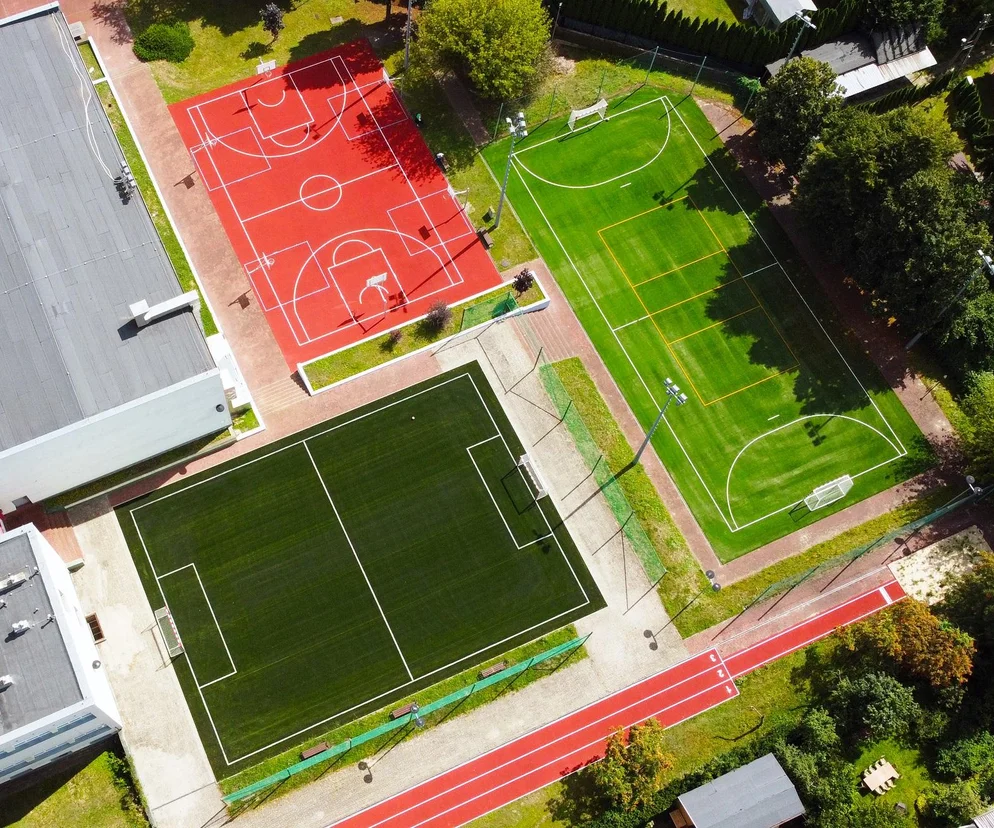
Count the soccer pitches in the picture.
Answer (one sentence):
I count 2 soccer pitches.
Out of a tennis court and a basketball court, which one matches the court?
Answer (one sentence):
The court appears to be a basketball court.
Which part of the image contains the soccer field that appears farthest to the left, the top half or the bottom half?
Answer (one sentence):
You can find the soccer field that appears farthest to the left in the bottom half.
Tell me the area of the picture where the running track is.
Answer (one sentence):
You can find the running track in the bottom area of the picture.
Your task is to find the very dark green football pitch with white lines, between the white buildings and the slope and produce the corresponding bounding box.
[116,360,606,779]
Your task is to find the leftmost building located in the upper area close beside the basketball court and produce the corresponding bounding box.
[0,0,231,518]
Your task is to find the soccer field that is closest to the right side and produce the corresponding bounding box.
[480,86,937,563]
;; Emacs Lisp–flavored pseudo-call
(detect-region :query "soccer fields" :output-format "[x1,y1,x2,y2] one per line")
[116,360,606,779]
[480,86,937,563]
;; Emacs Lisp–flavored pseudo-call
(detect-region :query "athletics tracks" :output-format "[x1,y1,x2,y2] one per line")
[329,647,741,828]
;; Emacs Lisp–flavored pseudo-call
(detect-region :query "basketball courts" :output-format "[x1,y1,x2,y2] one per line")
[170,39,502,371]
